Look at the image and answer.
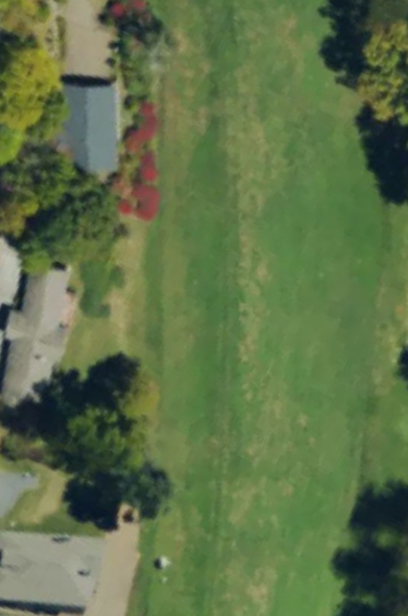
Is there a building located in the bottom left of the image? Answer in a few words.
Yes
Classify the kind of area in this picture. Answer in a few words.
golf course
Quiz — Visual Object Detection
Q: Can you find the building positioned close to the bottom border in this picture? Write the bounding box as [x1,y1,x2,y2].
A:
[0,529,106,612]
